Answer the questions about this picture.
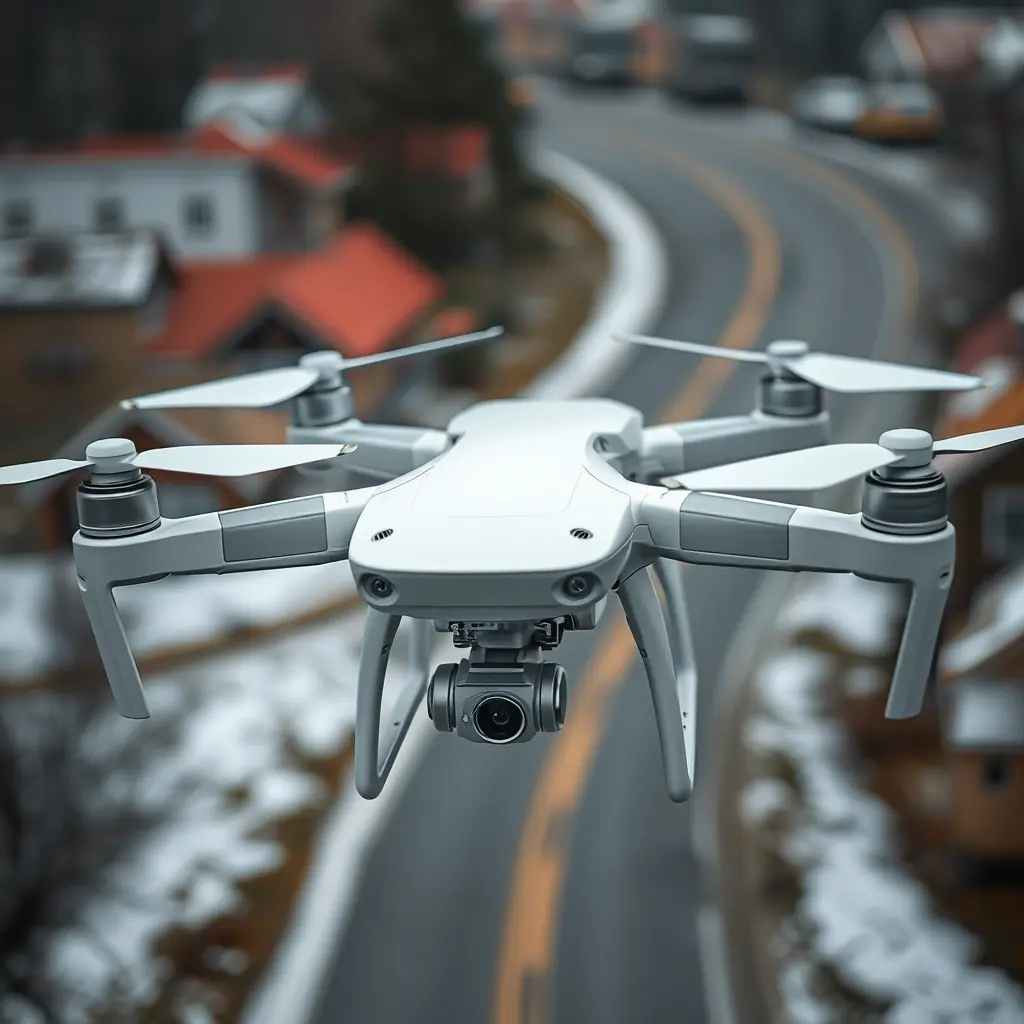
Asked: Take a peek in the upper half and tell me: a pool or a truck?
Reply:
truck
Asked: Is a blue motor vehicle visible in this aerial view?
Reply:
No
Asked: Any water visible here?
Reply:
No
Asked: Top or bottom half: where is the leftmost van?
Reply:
top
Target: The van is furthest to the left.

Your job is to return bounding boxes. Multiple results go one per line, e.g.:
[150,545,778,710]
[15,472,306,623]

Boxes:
[566,6,640,84]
